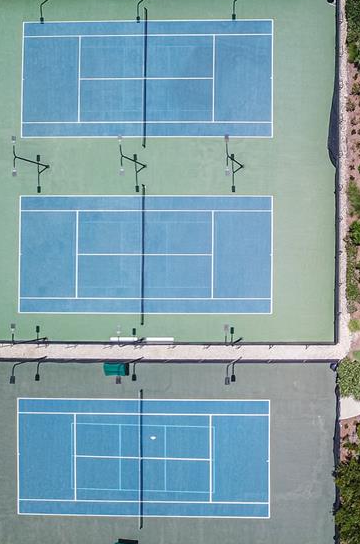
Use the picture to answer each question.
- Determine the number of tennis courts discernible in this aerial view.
3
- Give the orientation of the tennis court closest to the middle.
from side to side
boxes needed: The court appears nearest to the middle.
[18,196,273,314]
